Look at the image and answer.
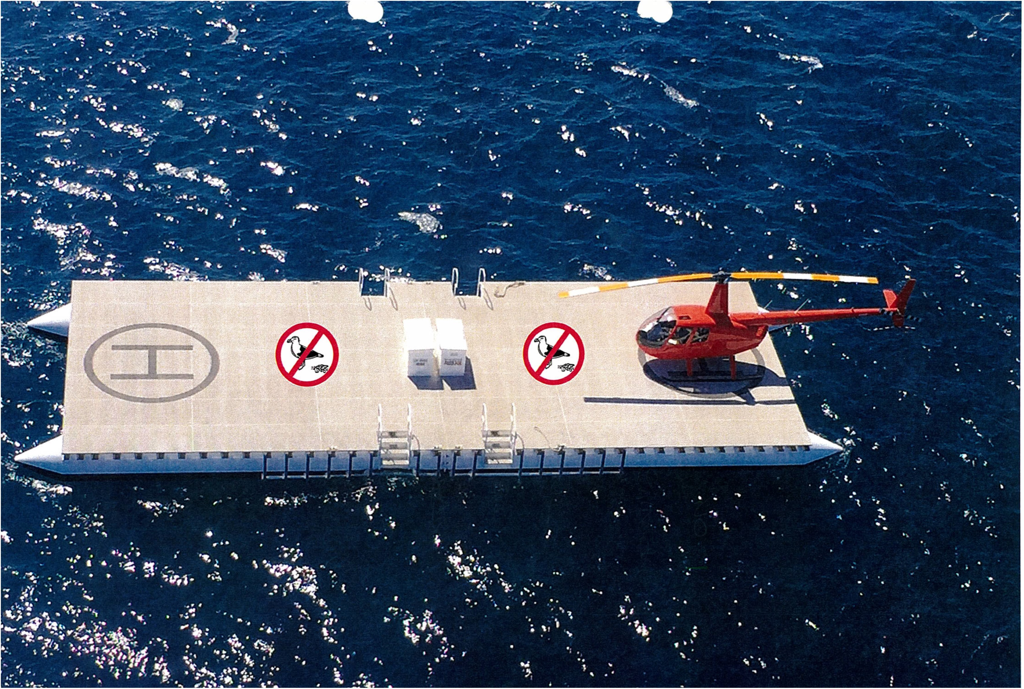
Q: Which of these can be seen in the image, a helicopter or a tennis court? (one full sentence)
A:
The one in the frame is a helicopter.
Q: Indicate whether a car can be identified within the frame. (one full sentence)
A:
No, the frame has no car in it.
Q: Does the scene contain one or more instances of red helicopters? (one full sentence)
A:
Yes, a red helicopter can be made out from above.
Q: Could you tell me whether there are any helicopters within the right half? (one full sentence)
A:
Yes, a helicopter is visible within the right half.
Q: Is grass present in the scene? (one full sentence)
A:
No, there's no grass in this view.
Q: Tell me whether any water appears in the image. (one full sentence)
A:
Yes, water can be seen from above here.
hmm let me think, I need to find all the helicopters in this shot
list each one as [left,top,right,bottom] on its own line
[559,272,922,383]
